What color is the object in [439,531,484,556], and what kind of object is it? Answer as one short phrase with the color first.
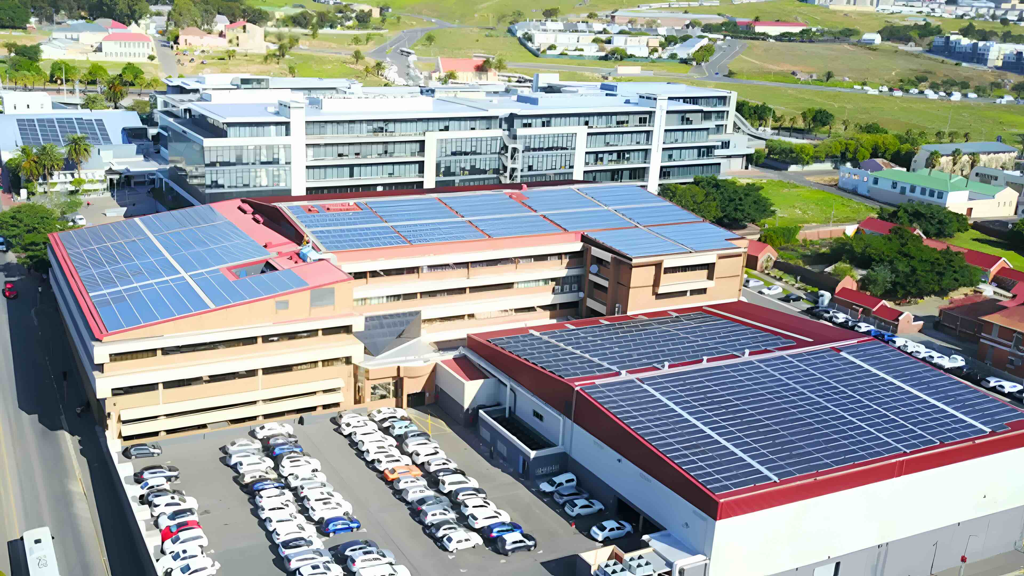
white car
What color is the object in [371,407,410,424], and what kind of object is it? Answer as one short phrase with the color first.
white car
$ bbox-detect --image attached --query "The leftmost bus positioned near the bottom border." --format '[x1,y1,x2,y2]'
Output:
[14,529,58,576]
